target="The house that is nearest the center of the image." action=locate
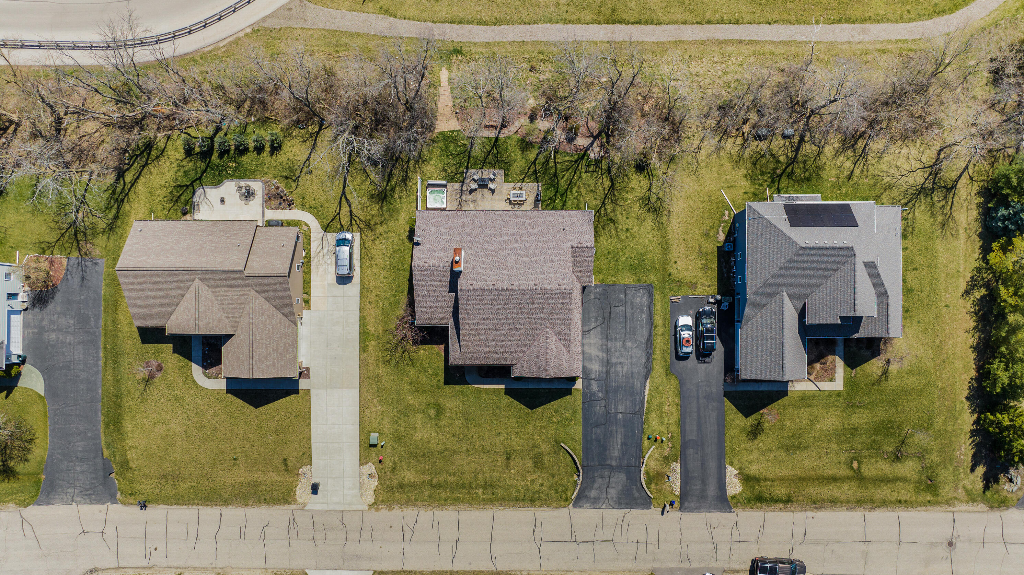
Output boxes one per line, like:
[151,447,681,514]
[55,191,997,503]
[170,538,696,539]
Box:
[411,204,596,381]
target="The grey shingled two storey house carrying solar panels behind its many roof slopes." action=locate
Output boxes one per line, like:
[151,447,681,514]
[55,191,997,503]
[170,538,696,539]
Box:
[722,188,908,387]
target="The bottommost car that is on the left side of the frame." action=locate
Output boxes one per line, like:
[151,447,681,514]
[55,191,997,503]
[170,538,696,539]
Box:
[332,231,354,277]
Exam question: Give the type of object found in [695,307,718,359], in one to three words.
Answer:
car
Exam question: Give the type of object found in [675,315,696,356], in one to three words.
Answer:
car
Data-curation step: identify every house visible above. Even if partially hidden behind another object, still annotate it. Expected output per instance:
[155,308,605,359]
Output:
[0,251,31,370]
[411,204,596,381]
[722,188,908,387]
[115,213,306,381]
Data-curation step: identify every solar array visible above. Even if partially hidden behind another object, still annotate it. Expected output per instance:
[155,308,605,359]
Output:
[784,204,858,227]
